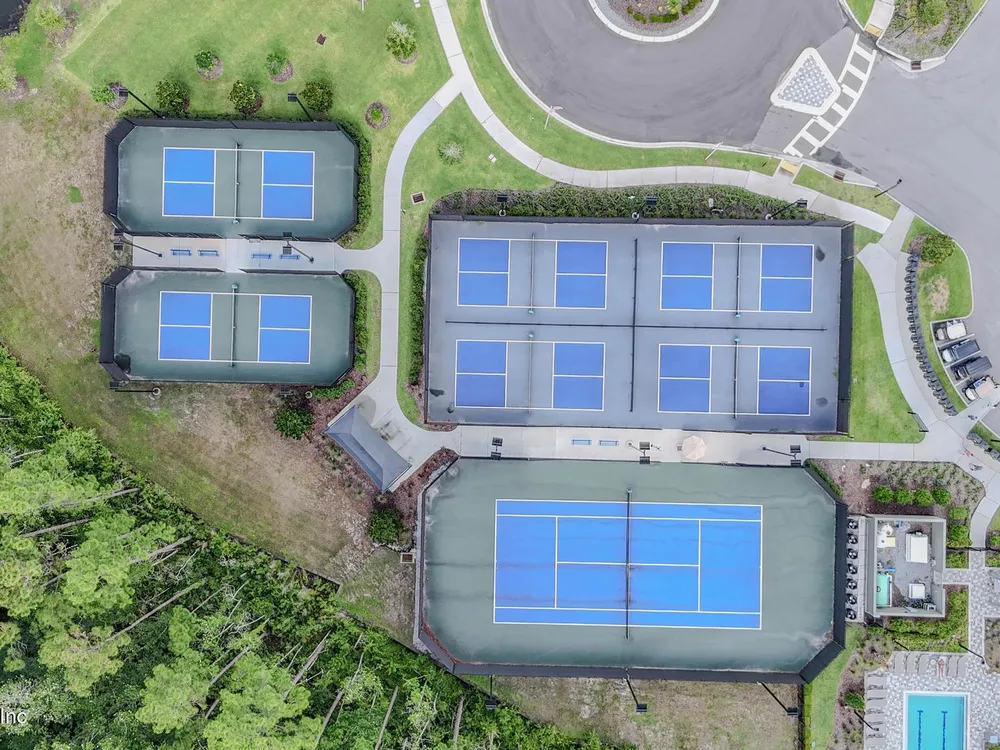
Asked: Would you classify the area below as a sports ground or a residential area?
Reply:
sports ground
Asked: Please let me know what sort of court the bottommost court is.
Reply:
tennis court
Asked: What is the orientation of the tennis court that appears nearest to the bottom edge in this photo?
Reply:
from side to side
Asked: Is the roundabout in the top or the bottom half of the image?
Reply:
top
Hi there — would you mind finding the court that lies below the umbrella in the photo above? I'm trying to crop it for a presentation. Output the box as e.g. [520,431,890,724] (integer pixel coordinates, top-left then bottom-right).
[423,462,835,672]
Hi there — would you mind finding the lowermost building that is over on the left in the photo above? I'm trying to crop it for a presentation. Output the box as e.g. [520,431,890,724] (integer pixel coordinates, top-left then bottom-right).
[324,404,413,494]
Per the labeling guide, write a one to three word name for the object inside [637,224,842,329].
sports court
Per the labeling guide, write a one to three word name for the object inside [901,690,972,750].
swimming pool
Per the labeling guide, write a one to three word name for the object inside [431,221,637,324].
sports court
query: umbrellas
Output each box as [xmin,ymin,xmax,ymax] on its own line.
[683,436,707,459]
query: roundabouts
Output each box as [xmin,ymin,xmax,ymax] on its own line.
[489,0,820,140]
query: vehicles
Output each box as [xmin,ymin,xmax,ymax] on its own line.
[938,343,976,364]
[931,324,967,342]
[951,360,989,382]
[961,381,999,404]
